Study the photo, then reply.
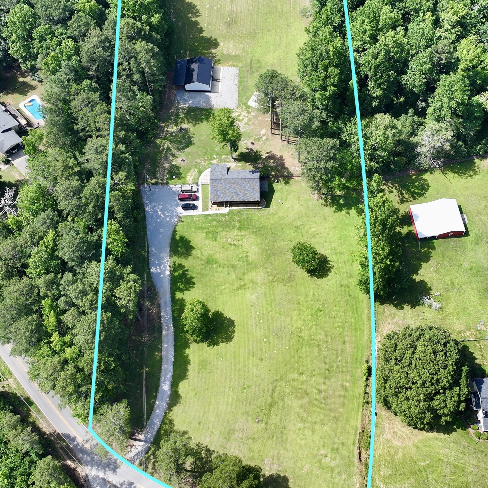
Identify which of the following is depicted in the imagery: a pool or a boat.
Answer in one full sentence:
Visible in the photo is a pool.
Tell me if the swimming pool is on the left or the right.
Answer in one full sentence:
The swimming pool is on the left side of the image.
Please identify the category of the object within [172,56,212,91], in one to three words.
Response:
building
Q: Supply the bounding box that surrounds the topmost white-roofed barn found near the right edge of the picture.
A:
[408,199,466,245]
